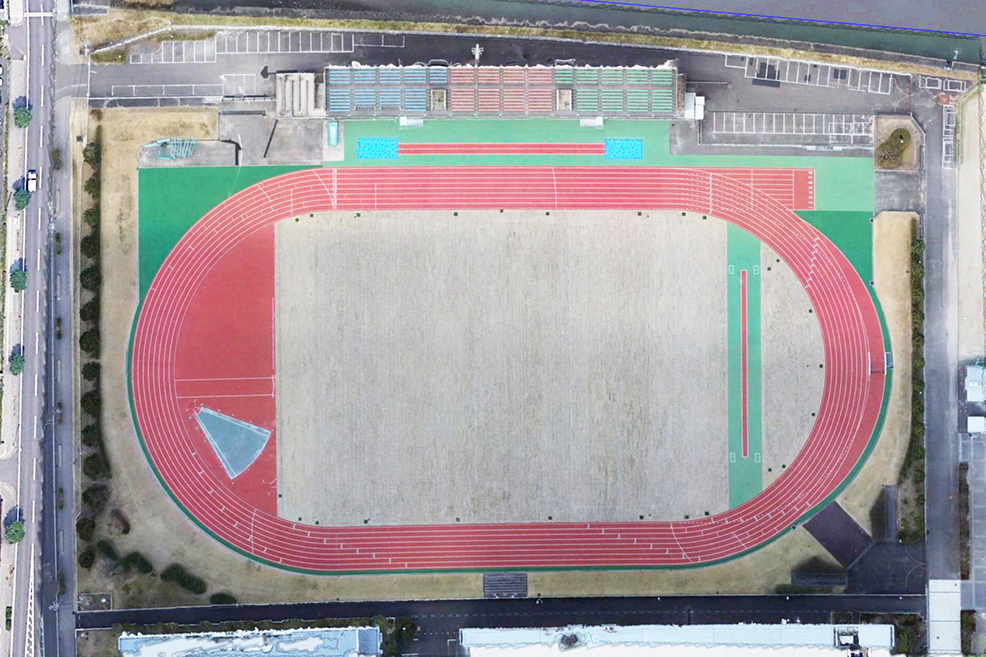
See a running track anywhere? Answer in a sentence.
Yes, the photo shows a running track.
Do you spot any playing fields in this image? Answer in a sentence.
Yes, this view includes a playing field.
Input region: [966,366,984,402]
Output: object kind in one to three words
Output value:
building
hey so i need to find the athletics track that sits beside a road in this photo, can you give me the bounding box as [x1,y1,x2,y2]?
[126,119,894,577]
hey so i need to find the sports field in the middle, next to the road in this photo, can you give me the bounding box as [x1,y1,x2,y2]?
[274,212,825,526]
